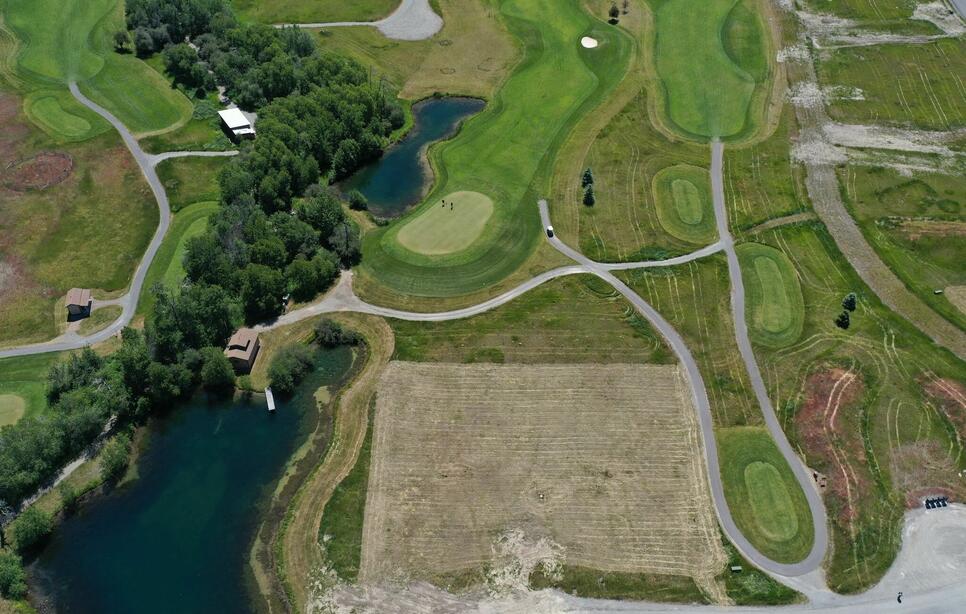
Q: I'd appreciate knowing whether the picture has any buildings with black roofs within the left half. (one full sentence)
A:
No, looking within the left half, there is no building with a black roof.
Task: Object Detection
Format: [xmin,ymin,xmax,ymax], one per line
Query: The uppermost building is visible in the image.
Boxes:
[218,107,254,146]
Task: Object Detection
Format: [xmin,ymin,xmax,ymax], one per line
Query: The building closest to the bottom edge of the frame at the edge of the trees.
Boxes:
[223,324,266,370]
